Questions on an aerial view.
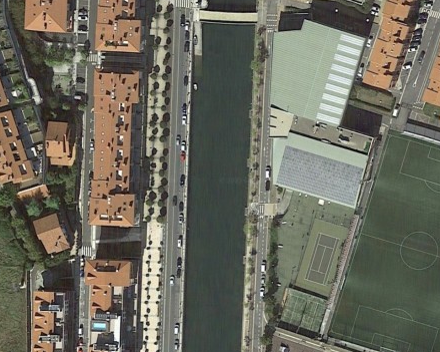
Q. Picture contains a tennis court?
Yes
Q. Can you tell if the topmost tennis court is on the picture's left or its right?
right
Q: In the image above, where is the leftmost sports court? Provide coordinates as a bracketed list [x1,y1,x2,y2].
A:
[279,288,307,327]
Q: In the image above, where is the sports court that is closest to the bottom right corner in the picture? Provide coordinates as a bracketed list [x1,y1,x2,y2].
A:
[299,294,326,334]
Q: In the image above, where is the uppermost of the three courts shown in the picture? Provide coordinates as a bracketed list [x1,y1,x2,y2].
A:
[294,218,350,296]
